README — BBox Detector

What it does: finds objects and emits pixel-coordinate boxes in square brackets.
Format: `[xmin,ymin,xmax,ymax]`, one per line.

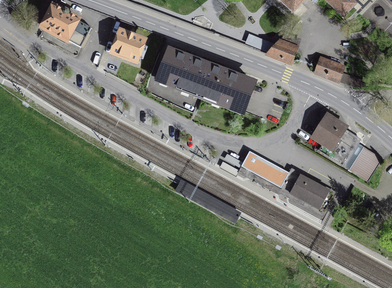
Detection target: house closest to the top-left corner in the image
[39,4,82,44]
